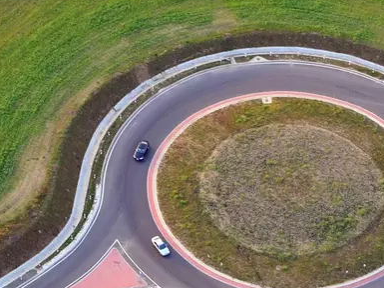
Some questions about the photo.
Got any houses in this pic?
No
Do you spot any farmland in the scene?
Yes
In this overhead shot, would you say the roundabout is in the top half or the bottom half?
bottom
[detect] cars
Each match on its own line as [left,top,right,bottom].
[151,233,170,256]
[135,139,151,158]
